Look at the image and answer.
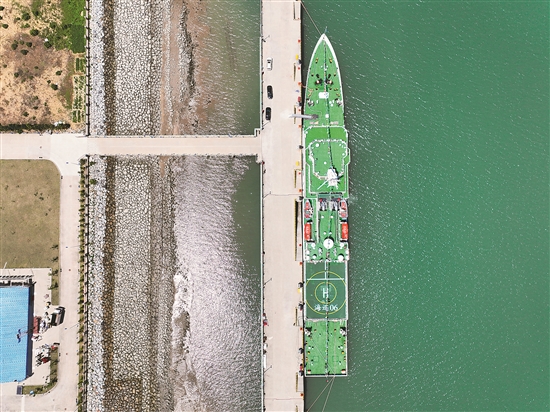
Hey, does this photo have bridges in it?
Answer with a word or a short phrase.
Yes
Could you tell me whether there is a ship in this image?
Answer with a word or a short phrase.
Yes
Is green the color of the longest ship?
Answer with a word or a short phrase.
Yes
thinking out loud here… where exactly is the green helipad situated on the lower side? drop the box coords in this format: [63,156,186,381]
[303,262,348,321]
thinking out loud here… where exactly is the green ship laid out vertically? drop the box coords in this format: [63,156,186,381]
[302,28,351,382]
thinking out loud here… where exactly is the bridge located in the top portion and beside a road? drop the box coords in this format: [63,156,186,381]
[86,128,262,163]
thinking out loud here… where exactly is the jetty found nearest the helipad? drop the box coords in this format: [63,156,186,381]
[262,0,303,412]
